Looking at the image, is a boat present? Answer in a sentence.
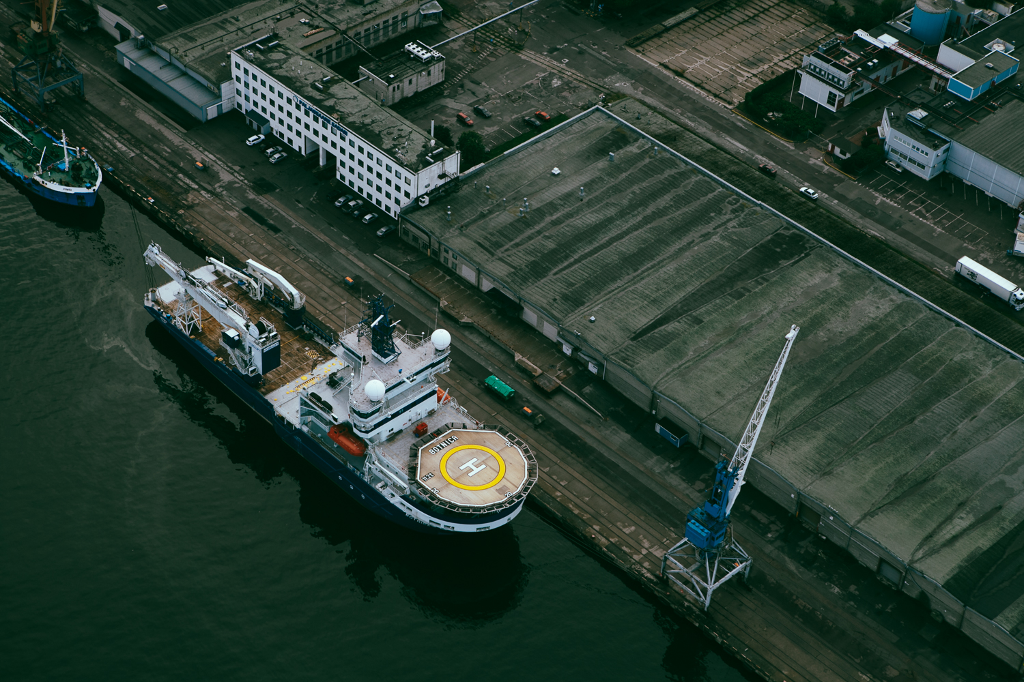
Yes, the frame does contain a boat.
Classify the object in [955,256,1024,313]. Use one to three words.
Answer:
truck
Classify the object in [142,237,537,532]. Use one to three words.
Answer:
ship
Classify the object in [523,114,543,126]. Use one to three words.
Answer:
vehicle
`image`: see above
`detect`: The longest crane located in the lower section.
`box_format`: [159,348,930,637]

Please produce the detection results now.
[655,324,797,614]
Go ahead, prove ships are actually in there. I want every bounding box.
[0,96,100,208]
[142,237,537,532]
